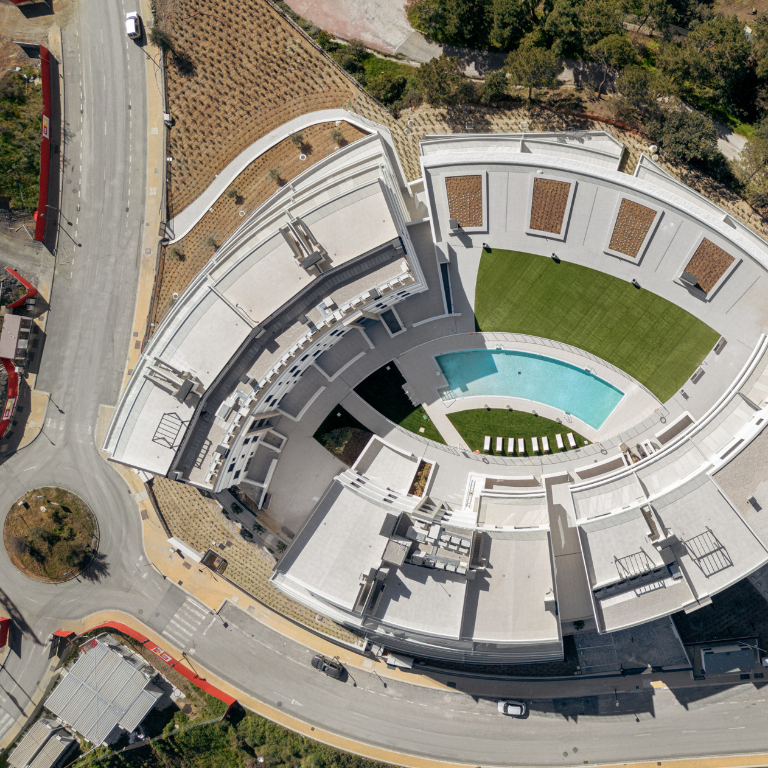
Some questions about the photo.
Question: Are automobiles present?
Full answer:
Yes, this view includes an automobile.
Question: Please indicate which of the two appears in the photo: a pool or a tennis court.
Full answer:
This aerial view contains a pool.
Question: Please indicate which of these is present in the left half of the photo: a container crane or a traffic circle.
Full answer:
The feature located in the left half of the photo is a traffic circle.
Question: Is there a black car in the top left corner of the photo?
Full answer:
No, there is no black car in the top left corner of the photo.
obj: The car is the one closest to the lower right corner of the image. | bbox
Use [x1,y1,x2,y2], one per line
[494,702,527,720]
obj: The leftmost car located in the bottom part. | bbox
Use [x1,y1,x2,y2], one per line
[307,650,343,679]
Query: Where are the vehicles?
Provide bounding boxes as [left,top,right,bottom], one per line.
[307,650,343,679]
[494,702,527,720]
[119,8,138,41]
